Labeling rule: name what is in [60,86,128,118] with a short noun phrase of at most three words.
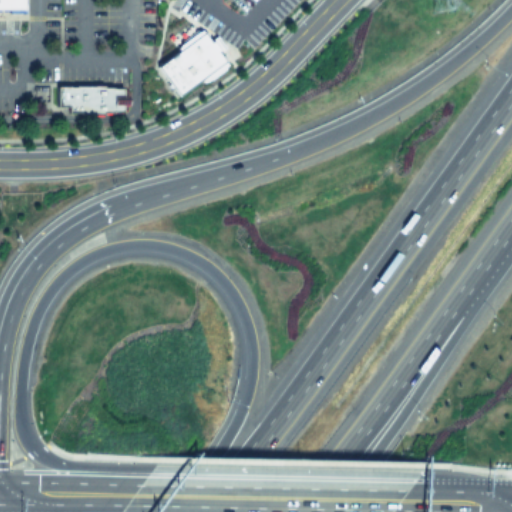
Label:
building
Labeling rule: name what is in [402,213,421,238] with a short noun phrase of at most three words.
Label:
vehicle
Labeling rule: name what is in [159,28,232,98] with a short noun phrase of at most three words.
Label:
building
